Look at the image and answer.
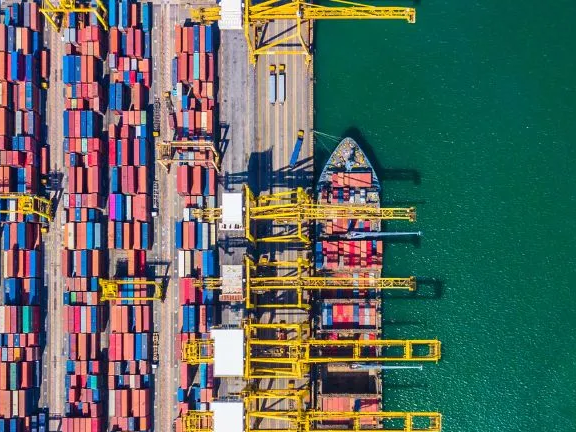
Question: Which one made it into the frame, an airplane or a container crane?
container crane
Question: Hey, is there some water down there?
Yes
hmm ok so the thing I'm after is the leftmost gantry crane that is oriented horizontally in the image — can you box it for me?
[0,193,52,222]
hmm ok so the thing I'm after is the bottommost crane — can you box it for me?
[182,375,442,432]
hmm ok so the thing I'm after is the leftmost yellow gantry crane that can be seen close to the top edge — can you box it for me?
[42,0,110,34]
